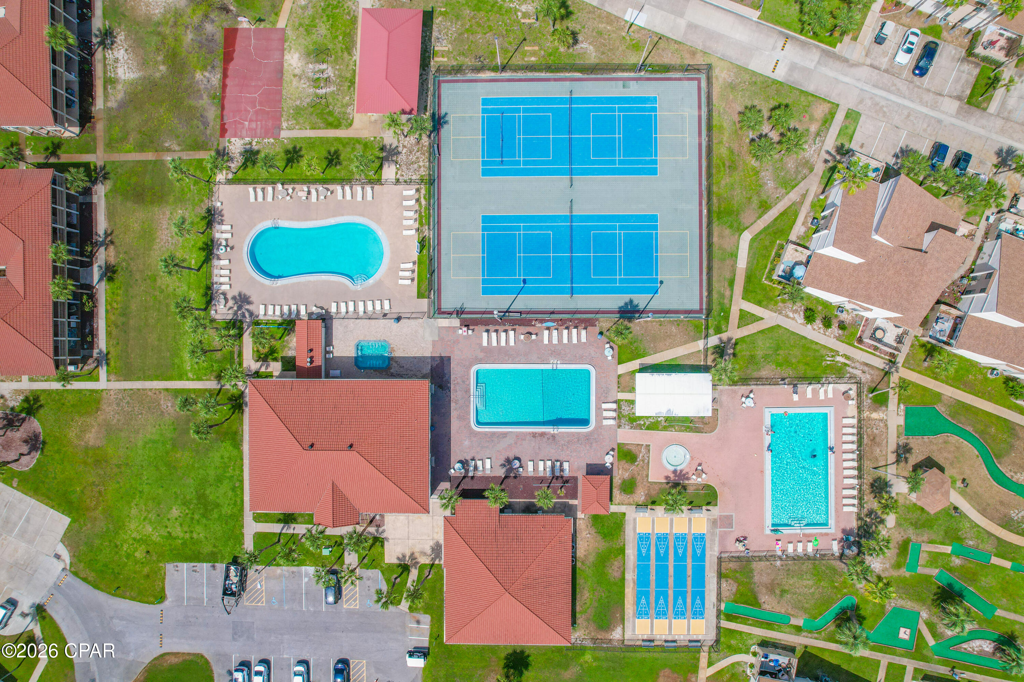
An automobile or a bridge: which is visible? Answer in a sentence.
Looking from above, you can make out an automobile.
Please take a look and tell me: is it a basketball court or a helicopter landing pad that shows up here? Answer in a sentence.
The image shows a basketball court.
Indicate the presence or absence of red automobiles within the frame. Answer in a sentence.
No, the picture doesn't show any red automobile.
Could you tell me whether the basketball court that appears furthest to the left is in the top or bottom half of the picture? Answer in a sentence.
It is in the top half that the basketball court that appears furthest to the left appears.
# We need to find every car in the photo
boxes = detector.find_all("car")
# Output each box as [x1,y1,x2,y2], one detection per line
[896,25,924,65]
[929,139,955,173]
[950,146,979,183]
[914,37,944,77]
[874,11,903,47]
[332,660,347,682]
[233,664,250,682]
[322,567,340,606]
[292,660,307,682]
[253,660,269,682]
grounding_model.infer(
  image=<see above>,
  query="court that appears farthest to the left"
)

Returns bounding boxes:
[220,27,285,138]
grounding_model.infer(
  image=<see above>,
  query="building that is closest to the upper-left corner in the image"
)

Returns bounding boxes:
[0,0,76,135]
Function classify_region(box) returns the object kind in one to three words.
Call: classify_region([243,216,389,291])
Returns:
swimming pool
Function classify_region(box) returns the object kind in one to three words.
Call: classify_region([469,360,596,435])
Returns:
swimming pool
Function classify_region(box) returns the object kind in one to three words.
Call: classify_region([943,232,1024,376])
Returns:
house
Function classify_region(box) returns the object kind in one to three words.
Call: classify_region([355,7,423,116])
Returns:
building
